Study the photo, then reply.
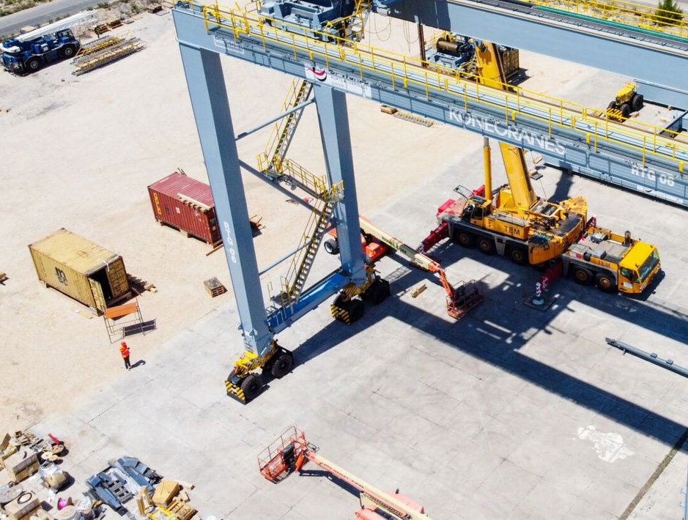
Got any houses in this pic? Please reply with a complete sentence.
No, there's no house here.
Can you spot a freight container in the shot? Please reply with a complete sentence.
Yes, you can see a freight container in this photo.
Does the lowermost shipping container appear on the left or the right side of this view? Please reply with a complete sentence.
It is on the left.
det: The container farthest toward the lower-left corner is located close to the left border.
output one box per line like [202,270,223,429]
[30,228,131,315]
